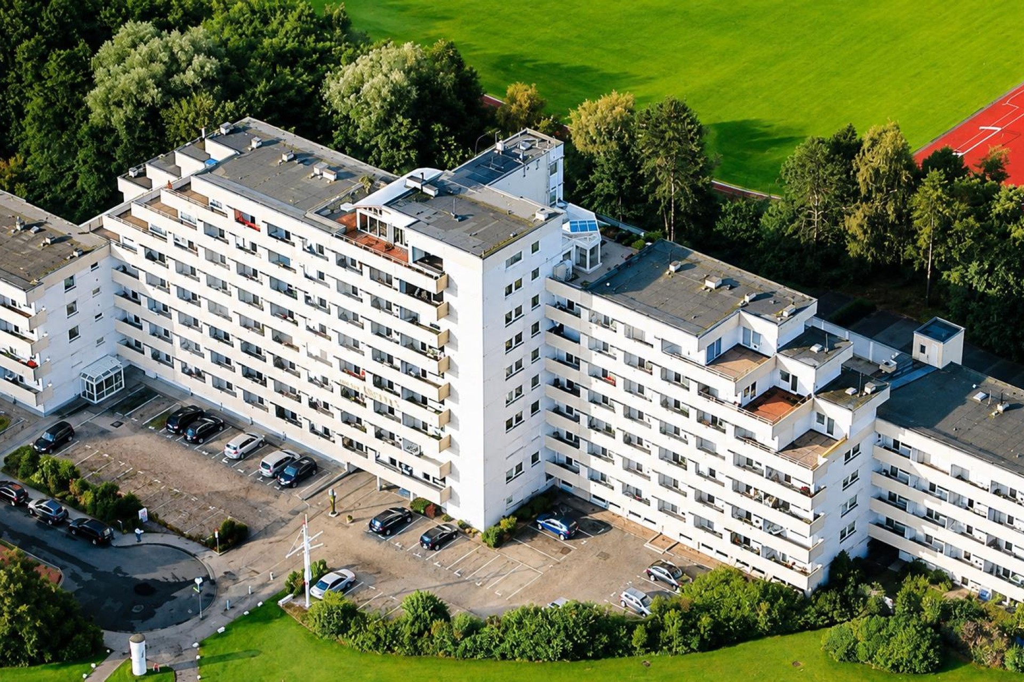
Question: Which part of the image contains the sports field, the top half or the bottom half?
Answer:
top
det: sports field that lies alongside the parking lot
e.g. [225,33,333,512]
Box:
[251,0,1024,208]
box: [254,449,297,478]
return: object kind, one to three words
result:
car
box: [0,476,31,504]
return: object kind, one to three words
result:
car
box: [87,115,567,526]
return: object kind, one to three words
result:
building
